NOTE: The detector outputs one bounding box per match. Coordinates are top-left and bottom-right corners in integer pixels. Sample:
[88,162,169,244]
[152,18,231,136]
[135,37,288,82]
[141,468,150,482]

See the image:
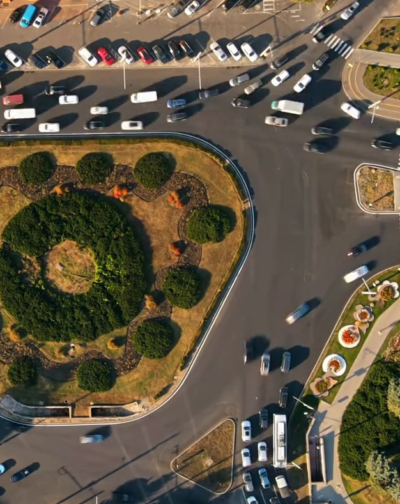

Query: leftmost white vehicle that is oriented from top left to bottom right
[5,49,23,67]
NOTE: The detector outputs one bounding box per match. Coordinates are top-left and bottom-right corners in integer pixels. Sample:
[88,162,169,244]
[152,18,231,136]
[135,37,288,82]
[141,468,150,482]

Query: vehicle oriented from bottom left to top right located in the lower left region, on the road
[13,466,34,482]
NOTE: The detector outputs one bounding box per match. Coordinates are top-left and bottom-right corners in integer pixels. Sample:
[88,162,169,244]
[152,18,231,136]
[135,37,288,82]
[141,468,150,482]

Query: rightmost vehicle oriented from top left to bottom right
[339,101,362,120]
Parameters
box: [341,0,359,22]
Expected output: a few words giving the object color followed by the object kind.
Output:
gray car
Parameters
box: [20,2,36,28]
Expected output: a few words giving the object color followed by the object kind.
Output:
blue vehicle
